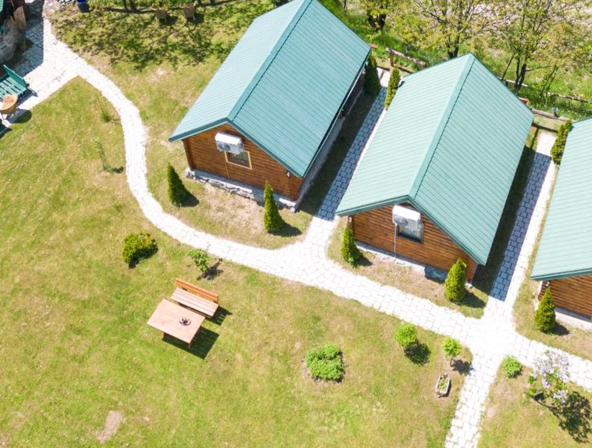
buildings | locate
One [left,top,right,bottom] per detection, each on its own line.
[529,117,592,338]
[333,52,535,290]
[167,0,373,218]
